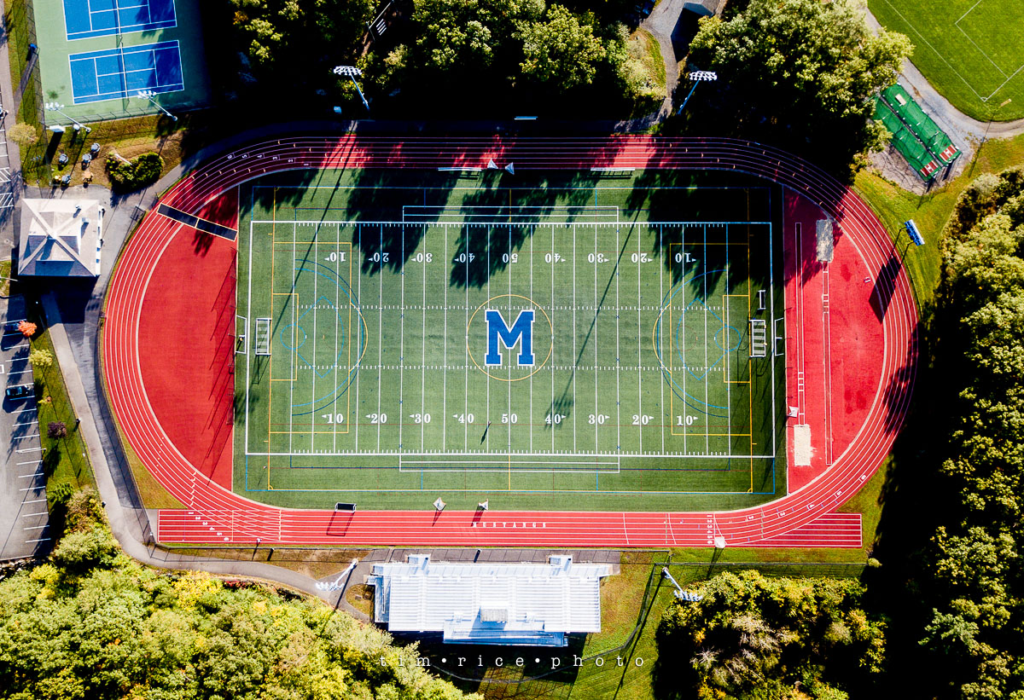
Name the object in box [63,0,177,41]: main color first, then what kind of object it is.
blue tennis court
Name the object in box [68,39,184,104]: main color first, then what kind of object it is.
blue tennis court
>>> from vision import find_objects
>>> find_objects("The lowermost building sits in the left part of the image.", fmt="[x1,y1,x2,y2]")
[18,198,102,276]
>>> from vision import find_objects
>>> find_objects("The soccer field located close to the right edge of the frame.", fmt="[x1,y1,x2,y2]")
[886,0,1024,101]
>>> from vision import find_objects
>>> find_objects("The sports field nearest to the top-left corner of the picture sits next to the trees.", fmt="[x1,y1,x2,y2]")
[230,170,788,510]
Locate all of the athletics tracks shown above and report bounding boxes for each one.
[102,131,924,553]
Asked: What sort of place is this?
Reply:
sports ground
